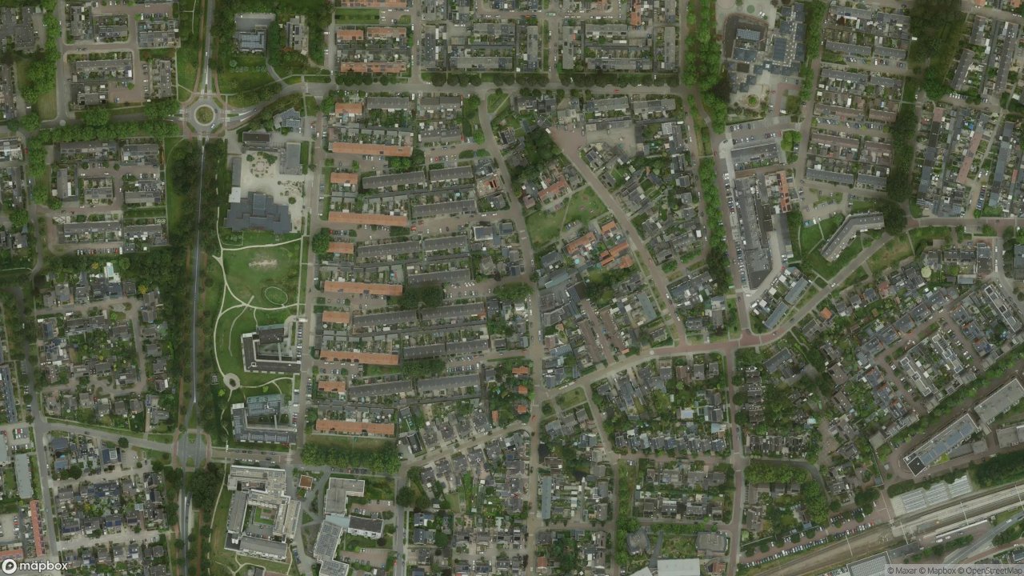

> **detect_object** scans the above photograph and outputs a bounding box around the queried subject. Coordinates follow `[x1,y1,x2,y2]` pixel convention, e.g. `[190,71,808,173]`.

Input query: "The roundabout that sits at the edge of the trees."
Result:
[182,92,227,138]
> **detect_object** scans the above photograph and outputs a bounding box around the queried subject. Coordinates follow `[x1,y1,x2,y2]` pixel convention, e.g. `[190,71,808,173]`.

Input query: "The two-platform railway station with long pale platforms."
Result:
[894,483,1024,538]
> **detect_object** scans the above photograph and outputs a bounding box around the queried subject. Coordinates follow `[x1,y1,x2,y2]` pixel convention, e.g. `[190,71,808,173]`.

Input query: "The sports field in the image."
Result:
[228,241,299,282]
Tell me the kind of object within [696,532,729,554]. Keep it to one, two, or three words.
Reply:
building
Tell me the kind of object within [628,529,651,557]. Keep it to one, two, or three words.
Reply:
building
